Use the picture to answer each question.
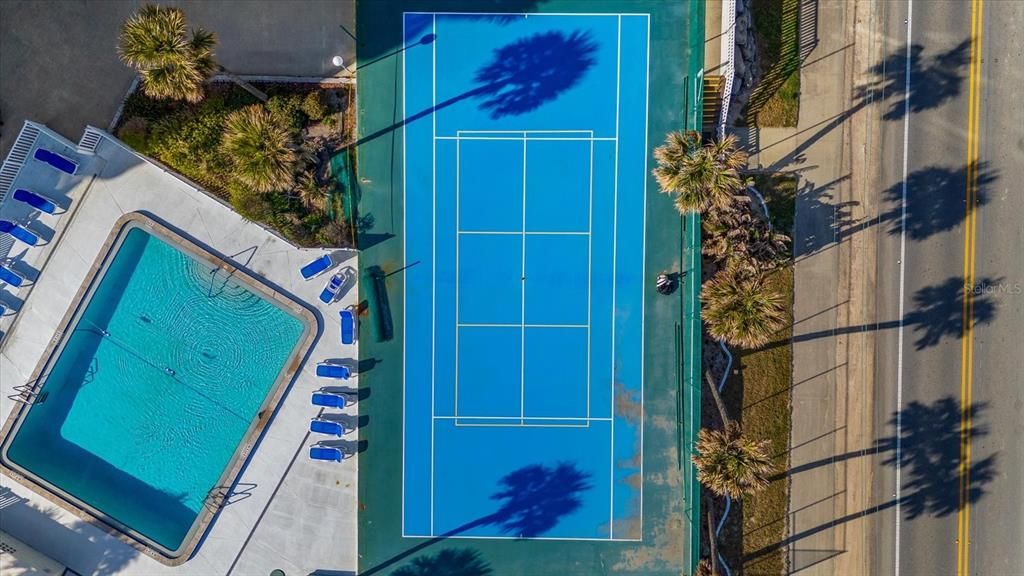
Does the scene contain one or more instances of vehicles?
No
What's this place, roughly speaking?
sports ground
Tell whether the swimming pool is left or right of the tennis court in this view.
to the left of it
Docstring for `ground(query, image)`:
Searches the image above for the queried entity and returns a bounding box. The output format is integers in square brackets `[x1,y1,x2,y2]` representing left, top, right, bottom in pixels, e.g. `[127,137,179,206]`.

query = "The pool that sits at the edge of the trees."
[0,213,318,566]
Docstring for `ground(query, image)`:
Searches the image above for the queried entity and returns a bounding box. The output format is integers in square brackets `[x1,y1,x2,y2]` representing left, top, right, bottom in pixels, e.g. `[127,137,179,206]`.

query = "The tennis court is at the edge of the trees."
[357,0,704,576]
